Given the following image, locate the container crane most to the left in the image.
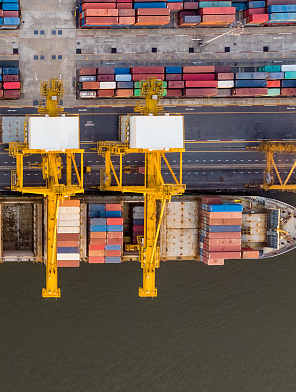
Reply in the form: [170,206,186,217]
[2,78,86,299]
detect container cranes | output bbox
[89,78,187,299]
[242,140,296,196]
[2,78,86,299]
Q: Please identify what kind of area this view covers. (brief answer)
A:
port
